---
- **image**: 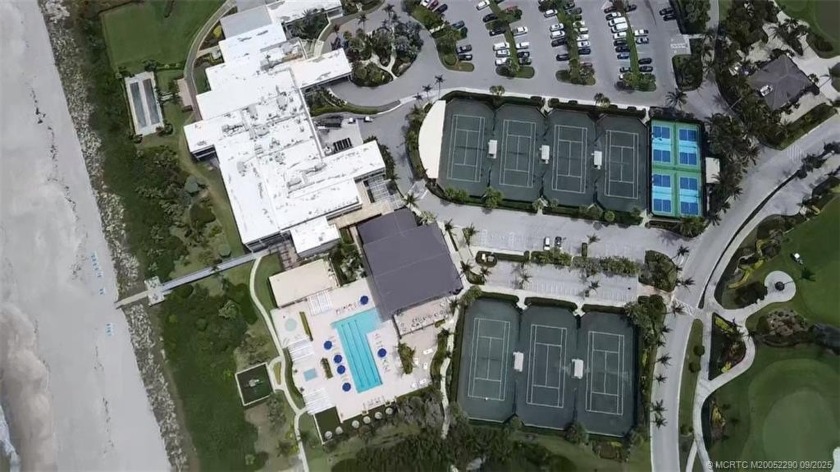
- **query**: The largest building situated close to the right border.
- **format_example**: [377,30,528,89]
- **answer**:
[746,53,815,110]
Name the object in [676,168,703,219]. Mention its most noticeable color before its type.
blue sports court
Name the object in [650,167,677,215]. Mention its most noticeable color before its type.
blue sports court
